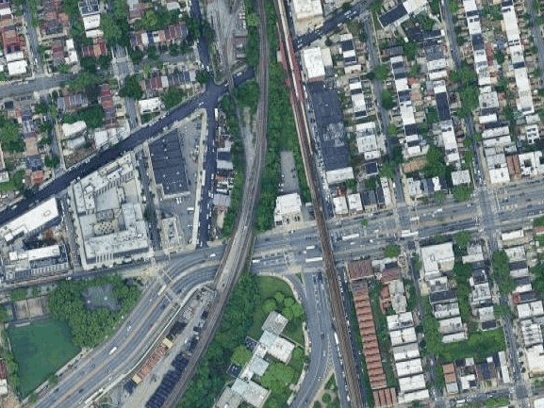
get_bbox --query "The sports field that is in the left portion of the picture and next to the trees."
[8,318,83,399]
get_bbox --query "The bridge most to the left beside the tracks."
[159,217,249,408]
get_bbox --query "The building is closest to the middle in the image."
[275,194,302,224]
